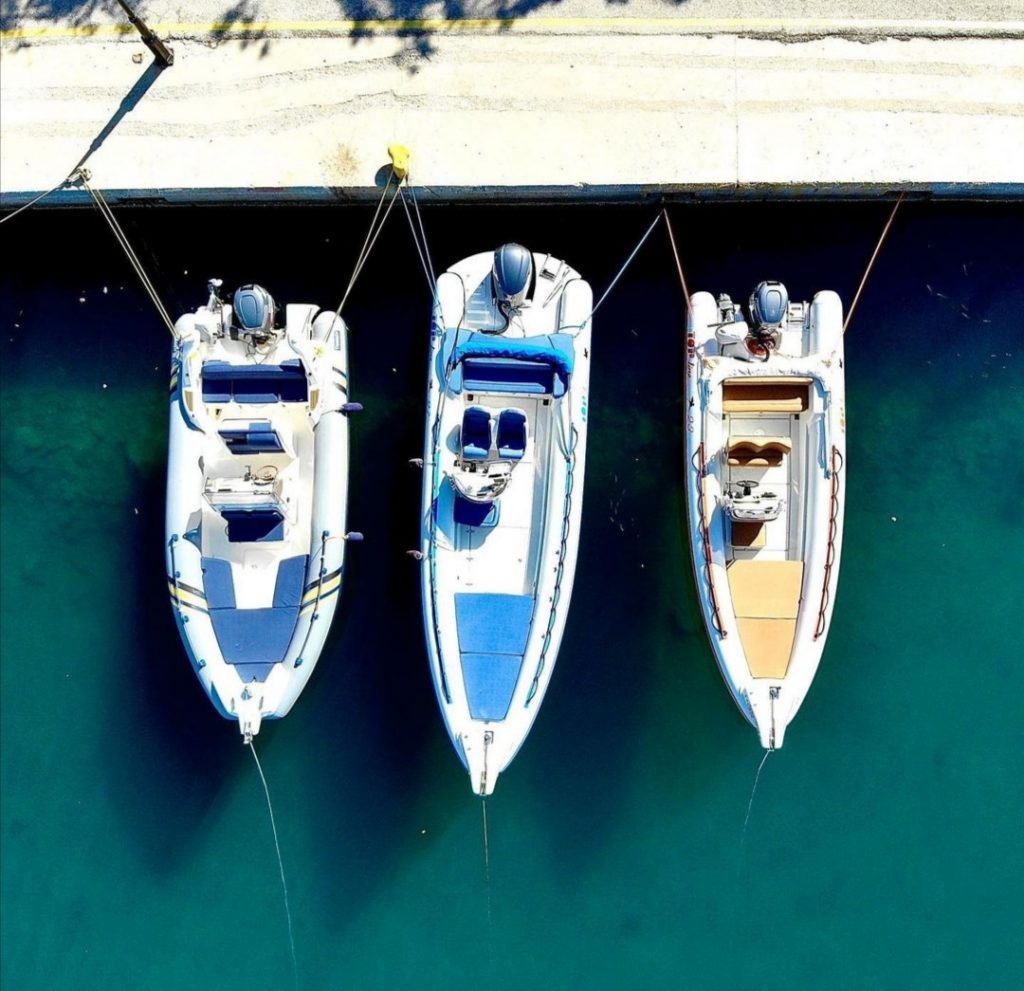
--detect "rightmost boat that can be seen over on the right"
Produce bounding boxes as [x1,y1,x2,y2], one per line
[682,282,847,751]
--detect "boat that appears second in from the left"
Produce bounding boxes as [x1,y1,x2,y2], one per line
[419,246,594,797]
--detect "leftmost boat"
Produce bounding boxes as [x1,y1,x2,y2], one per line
[167,279,351,743]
